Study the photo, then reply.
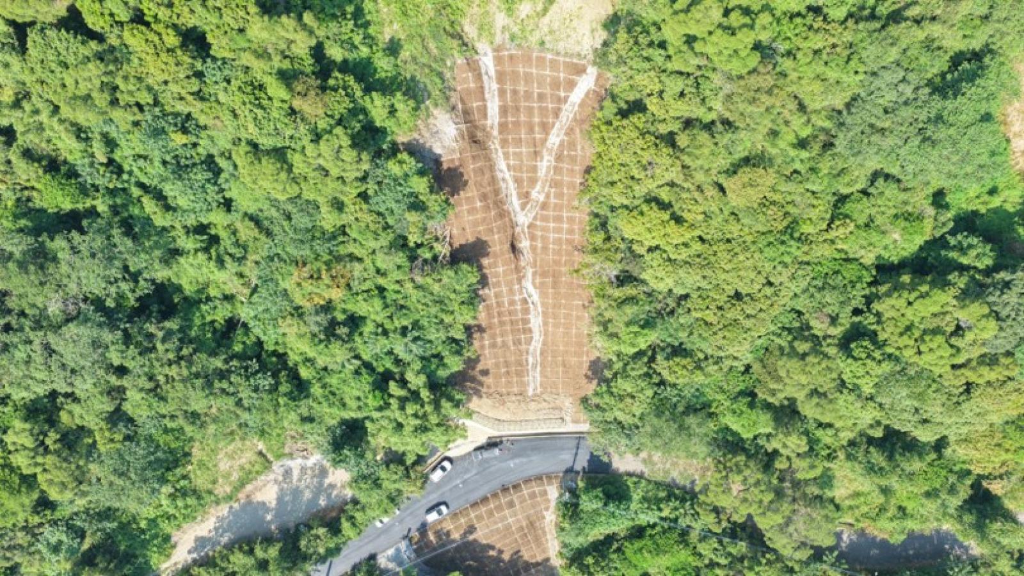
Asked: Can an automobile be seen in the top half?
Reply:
No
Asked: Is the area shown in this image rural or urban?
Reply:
rural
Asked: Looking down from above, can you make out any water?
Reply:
No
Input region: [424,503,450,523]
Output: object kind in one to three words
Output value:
car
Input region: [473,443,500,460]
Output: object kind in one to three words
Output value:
car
